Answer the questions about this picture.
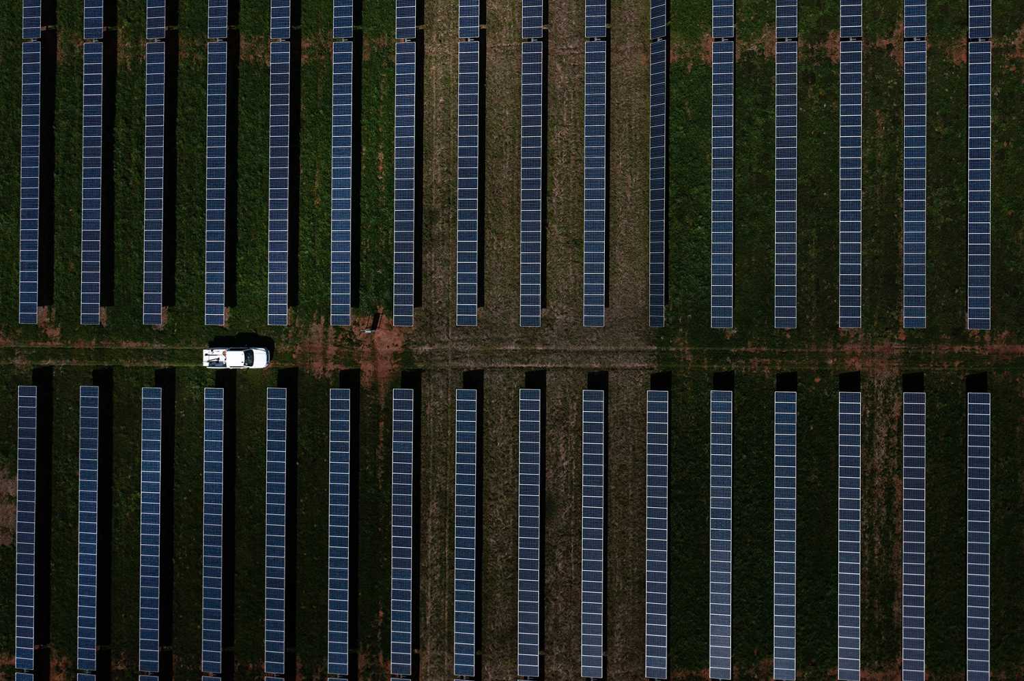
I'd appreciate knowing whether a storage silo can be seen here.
No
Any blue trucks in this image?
No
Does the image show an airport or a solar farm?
solar farm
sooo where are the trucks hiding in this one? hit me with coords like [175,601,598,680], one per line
[203,346,270,370]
